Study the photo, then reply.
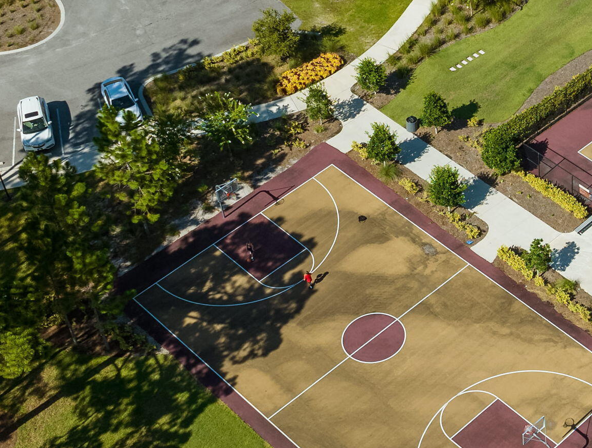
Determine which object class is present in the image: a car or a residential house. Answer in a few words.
car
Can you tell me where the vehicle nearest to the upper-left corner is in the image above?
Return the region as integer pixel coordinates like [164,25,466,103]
[13,91,53,150]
